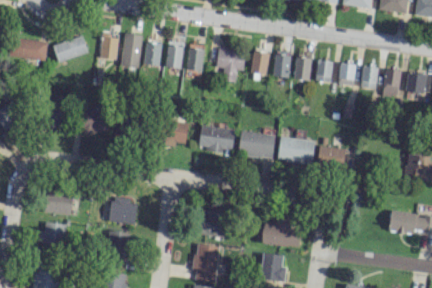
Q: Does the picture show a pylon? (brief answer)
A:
No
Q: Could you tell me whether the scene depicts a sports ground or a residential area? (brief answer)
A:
residential area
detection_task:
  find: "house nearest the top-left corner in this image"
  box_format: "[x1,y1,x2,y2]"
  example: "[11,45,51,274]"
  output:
[9,40,48,63]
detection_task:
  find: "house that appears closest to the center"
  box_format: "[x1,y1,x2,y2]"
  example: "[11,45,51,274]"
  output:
[200,124,236,158]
